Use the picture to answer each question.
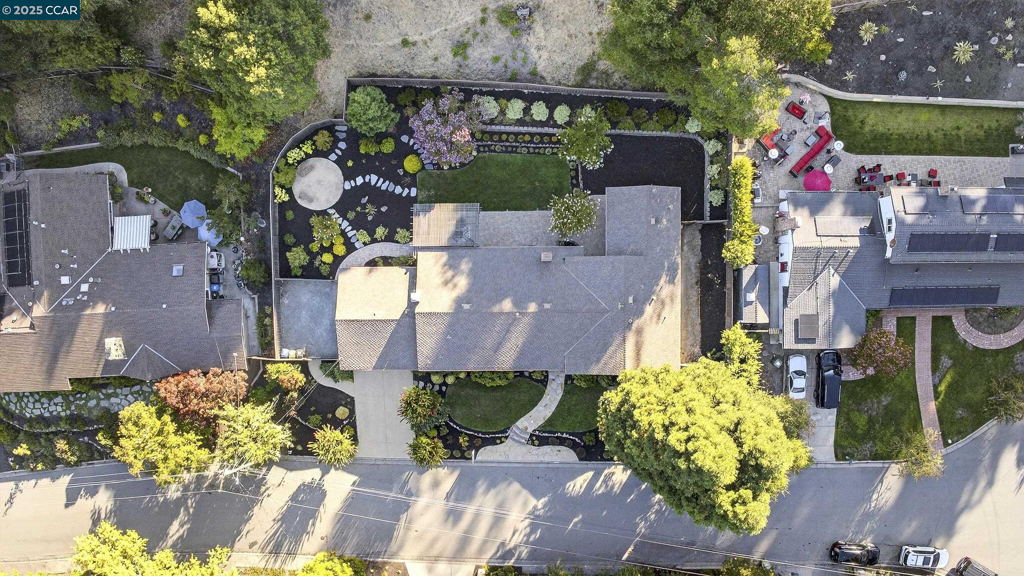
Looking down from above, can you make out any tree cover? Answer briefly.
Yes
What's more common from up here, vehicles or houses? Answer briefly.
vehicles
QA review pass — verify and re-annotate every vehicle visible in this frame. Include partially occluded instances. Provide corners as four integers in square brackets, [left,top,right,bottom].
[818,353,846,407]
[901,546,954,573]
[788,353,813,400]
[957,554,1001,576]
[831,542,884,570]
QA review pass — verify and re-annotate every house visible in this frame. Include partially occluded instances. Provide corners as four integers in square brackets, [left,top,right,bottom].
[336,186,682,375]
[770,177,1024,349]
[0,173,254,393]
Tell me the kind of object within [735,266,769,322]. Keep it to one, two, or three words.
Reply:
shed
